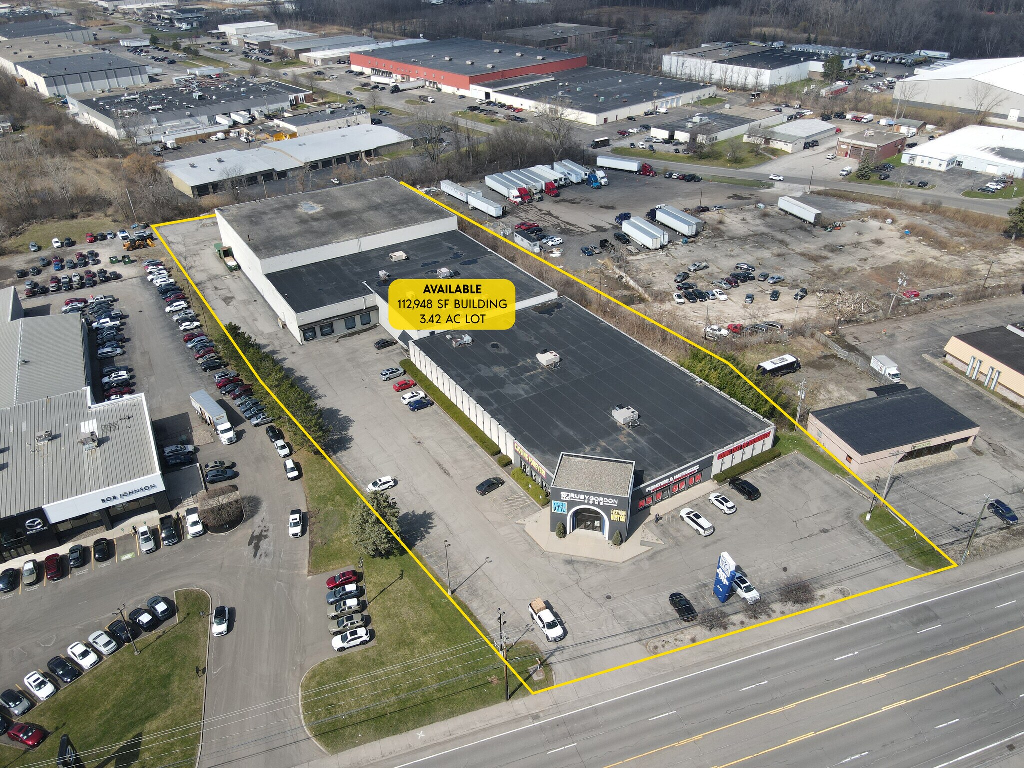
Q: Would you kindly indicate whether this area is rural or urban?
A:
urban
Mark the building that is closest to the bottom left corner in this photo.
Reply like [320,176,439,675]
[0,286,206,566]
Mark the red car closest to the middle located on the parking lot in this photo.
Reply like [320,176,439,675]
[391,381,419,394]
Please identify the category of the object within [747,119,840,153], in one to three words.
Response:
shed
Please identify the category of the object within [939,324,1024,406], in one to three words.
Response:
building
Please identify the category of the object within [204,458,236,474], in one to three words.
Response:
car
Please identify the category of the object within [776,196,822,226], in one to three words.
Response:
trailer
